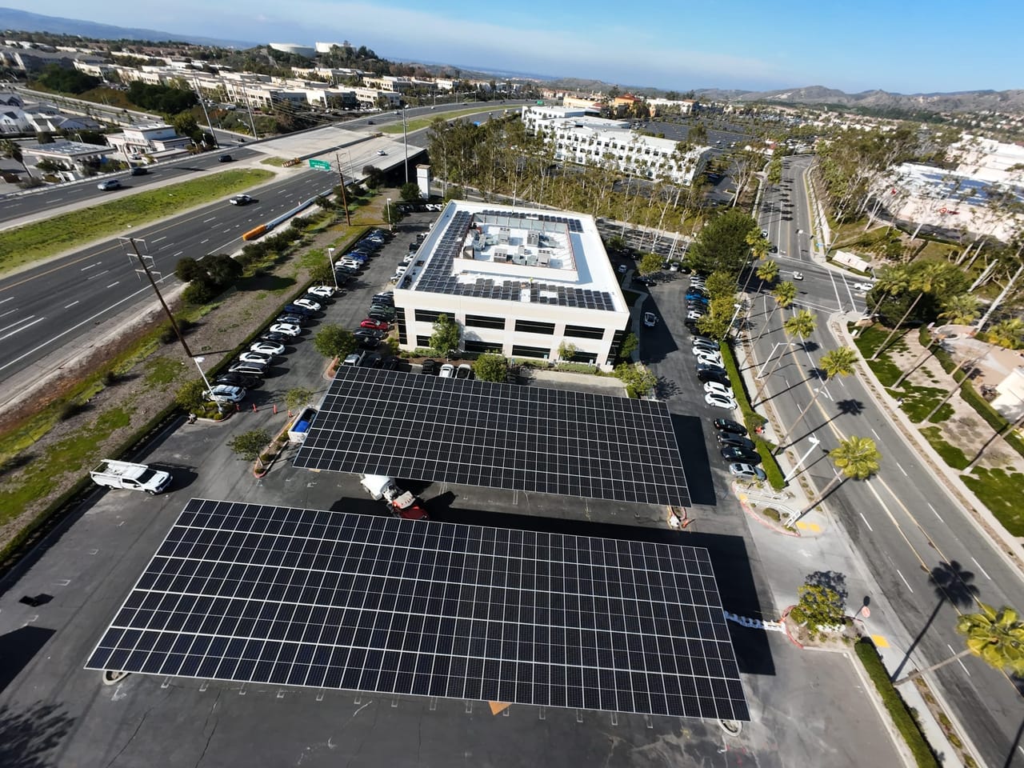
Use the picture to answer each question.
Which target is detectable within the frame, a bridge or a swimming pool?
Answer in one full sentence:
There is a bridge in the scene.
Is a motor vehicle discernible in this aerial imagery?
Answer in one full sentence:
Yes, the image includes a motor vehicle.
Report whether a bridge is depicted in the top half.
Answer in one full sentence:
Yes, a bridge appears in the top half.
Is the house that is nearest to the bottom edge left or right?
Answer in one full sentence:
The house that is nearest to the bottom edge is on the right side of the image.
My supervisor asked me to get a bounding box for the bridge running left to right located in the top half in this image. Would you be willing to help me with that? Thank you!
[252,120,426,181]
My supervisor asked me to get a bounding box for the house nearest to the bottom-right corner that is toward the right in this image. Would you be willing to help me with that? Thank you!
[985,370,1024,418]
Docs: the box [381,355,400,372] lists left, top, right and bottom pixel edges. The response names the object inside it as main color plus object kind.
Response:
black car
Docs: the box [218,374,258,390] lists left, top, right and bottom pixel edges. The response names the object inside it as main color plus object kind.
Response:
black car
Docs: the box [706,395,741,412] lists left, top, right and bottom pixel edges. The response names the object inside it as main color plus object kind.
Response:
white car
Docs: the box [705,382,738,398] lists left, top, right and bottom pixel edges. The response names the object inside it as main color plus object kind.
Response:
white car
